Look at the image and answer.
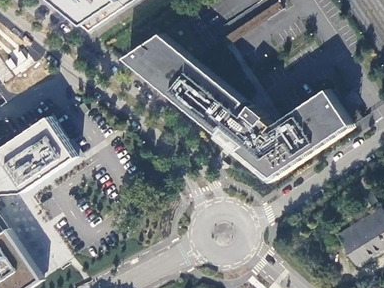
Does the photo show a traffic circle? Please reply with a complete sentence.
Yes, looking at the shot, I can spot a traffic circle.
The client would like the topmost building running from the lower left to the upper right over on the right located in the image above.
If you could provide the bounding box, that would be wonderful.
[227,2,287,43]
